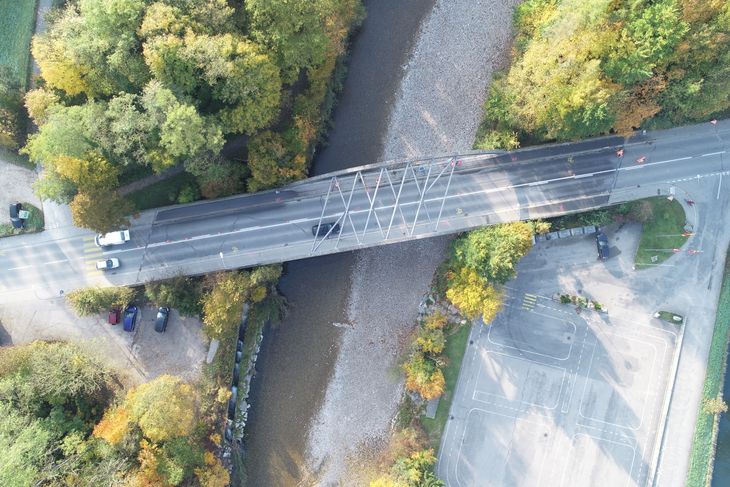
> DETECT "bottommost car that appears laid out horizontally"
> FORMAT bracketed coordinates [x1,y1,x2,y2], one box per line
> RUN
[95,258,120,270]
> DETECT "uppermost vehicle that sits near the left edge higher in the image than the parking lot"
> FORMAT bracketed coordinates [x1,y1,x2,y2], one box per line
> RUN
[9,201,26,227]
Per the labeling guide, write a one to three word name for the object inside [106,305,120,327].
vehicle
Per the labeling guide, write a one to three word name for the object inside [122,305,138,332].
car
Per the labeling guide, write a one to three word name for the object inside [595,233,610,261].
car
